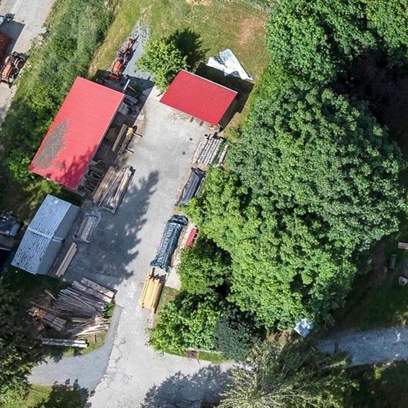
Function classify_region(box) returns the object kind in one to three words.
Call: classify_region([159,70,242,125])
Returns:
shed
